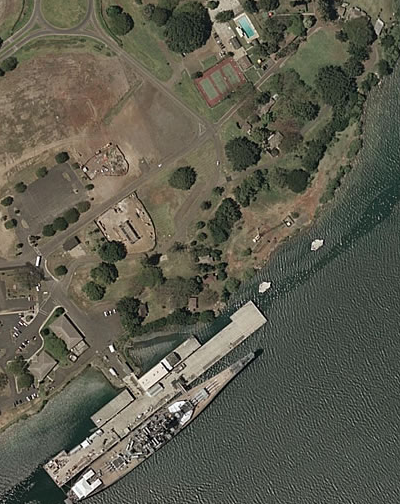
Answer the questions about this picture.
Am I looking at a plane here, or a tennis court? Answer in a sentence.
The one in the frame is a tennis court.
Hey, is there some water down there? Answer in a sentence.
Yes, the picture does contain water.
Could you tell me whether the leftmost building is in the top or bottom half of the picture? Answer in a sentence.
It is in the bottom half that the leftmost building appears.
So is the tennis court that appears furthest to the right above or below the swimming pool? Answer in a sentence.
It's below the swimming pool that the tennis court that appears furthest to the right shows up.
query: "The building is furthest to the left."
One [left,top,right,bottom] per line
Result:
[30,351,58,381]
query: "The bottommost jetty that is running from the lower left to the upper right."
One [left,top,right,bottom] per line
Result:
[44,301,267,487]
